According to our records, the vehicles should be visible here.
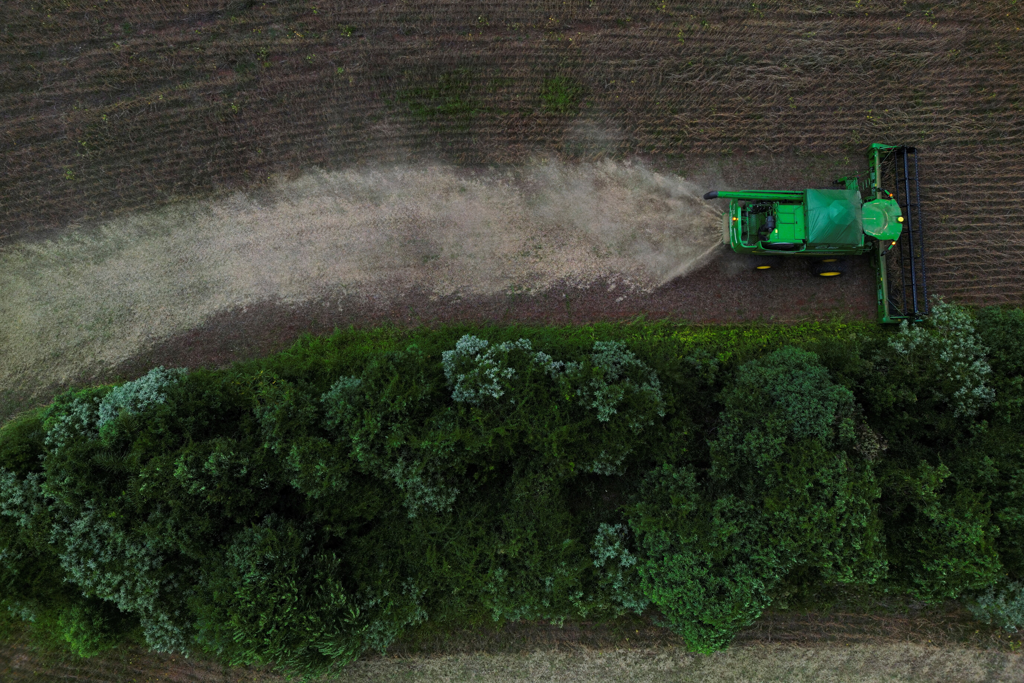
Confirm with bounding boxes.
[702,143,928,327]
